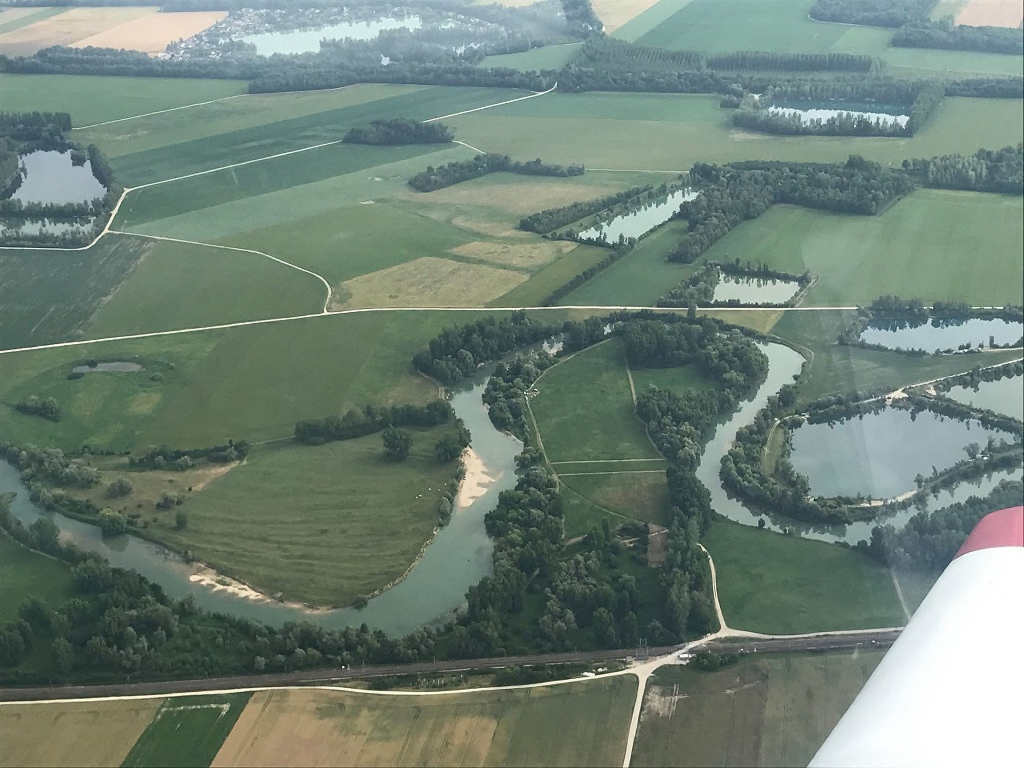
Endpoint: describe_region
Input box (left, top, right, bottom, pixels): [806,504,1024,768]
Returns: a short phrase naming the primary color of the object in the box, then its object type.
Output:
white airplane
